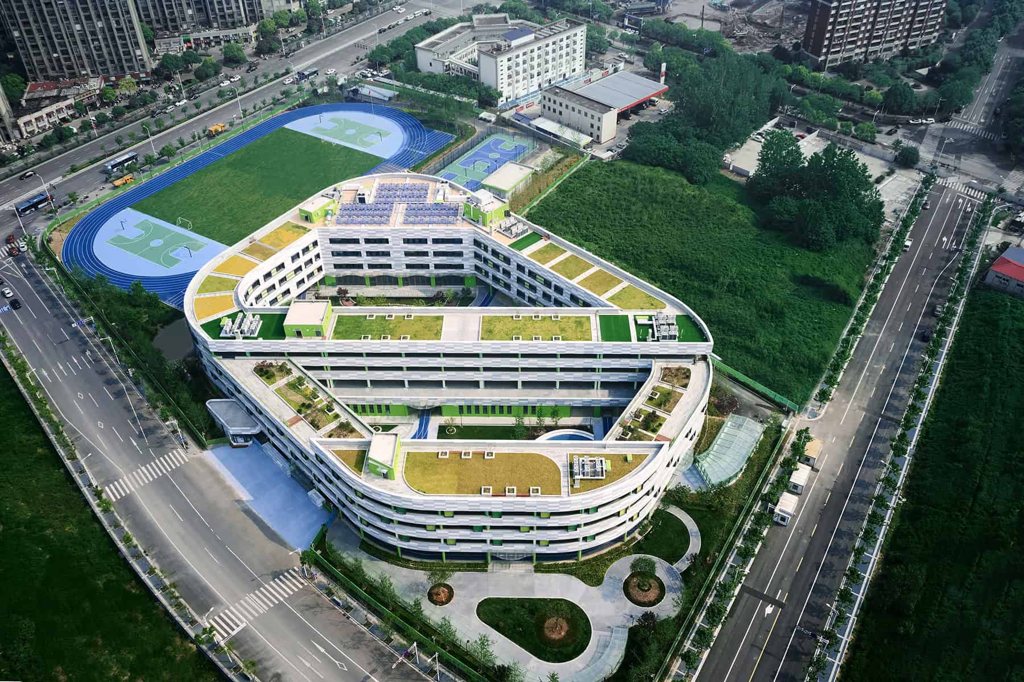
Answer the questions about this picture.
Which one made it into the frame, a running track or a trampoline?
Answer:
running track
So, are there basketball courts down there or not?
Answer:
Yes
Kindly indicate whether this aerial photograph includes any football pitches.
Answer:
Yes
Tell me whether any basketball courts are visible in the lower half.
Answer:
No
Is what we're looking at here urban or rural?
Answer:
urban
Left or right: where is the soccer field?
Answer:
left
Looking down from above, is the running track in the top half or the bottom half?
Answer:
top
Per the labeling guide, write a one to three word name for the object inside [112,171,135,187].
vehicle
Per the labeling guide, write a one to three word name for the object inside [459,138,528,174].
basketball court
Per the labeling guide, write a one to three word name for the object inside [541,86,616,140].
building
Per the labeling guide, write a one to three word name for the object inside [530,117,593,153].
shed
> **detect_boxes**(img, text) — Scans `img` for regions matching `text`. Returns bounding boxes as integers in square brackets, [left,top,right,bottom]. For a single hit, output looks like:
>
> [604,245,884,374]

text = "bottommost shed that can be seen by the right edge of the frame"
[984,255,1024,298]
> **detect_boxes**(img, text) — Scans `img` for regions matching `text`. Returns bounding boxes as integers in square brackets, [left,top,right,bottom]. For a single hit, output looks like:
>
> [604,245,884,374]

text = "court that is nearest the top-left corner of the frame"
[106,219,208,269]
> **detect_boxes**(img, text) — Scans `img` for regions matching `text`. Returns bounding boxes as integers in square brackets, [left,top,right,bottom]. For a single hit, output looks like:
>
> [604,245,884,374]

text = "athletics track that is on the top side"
[66,104,453,316]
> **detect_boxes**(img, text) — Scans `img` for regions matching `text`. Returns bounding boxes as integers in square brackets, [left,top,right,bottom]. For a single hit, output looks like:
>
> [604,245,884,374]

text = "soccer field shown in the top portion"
[131,126,386,247]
